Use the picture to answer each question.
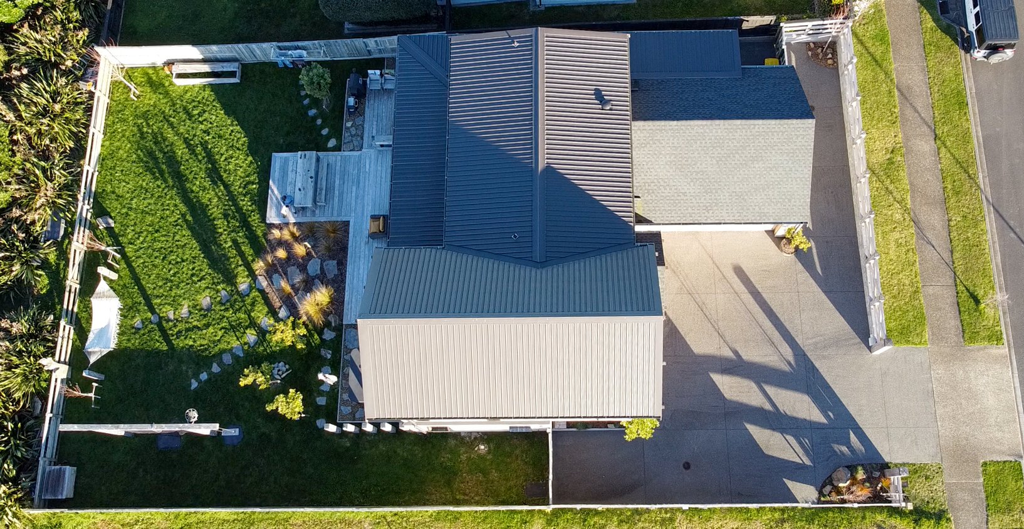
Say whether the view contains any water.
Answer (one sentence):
No, the scene doesn't show any water.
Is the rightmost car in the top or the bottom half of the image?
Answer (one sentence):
The rightmost car sits in the top half of the picture.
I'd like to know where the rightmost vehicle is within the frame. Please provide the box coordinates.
[953,0,1020,63]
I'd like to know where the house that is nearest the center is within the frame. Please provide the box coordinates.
[358,28,666,429]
